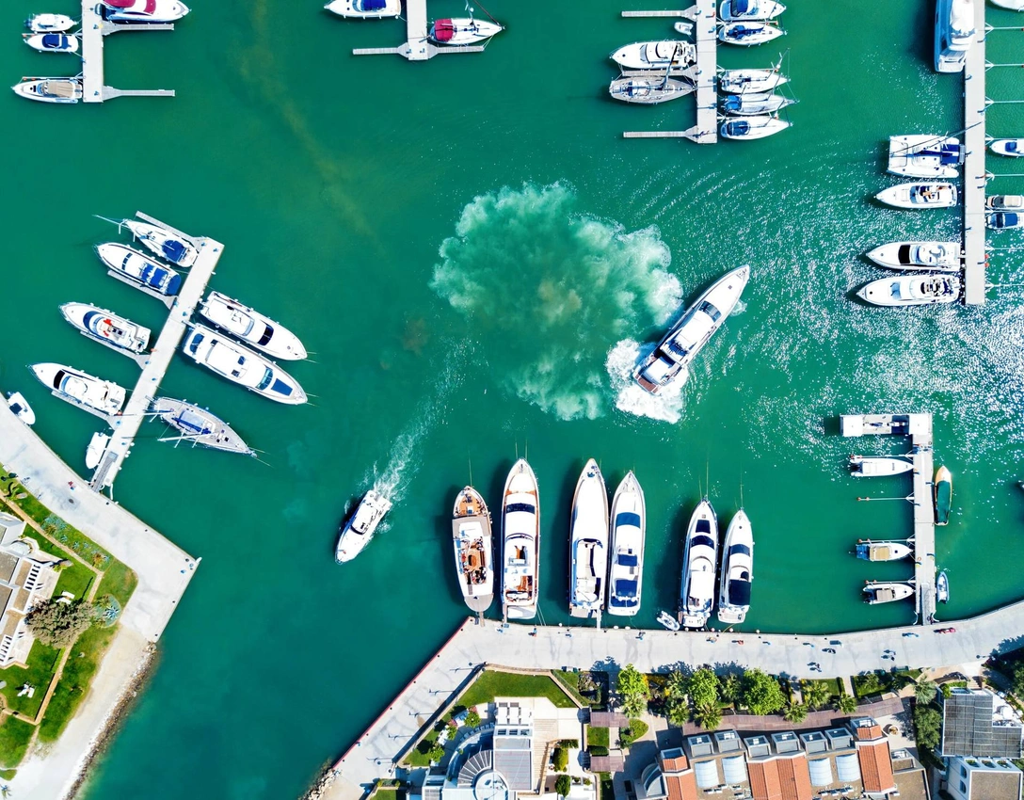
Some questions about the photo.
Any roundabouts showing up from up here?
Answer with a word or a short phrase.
No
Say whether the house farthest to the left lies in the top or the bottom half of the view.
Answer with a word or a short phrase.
bottom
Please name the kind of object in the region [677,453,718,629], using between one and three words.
boat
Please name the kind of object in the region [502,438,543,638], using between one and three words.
boat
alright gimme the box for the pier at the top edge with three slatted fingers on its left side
[621,0,734,146]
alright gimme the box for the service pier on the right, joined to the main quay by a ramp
[852,414,939,628]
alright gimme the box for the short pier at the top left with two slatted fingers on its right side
[24,0,176,106]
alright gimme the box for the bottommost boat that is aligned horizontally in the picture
[860,582,914,602]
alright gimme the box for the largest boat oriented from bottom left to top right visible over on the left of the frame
[338,491,391,562]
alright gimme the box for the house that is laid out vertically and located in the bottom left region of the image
[0,503,73,669]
